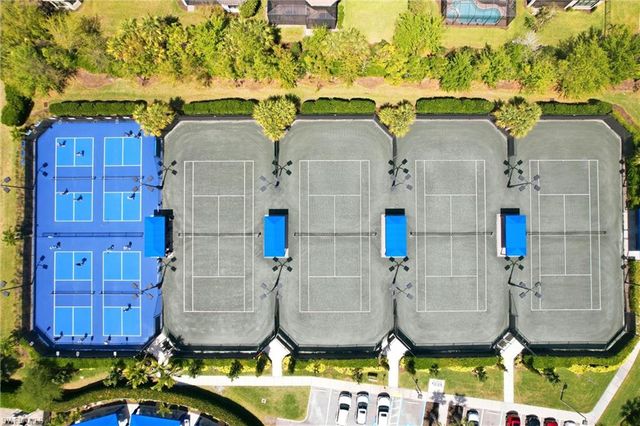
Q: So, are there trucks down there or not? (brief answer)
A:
No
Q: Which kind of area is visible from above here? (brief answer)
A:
sports ground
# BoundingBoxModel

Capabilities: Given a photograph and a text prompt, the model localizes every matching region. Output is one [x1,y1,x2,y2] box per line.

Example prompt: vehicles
[376,395,392,426]
[526,418,540,426]
[544,420,558,426]
[356,394,371,426]
[337,394,352,426]
[506,414,522,426]
[466,412,482,426]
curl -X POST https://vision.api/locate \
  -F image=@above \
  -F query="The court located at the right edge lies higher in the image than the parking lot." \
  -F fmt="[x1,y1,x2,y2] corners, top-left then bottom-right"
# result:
[509,121,625,349]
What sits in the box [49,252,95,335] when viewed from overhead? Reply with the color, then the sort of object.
blue sports court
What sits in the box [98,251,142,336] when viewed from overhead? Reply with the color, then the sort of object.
blue sports court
